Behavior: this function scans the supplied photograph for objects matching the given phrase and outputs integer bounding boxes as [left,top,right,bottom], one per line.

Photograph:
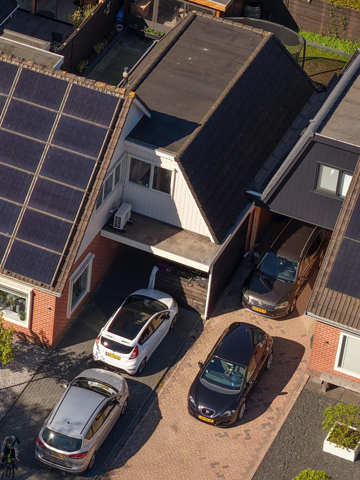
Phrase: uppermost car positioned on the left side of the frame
[92,283,181,378]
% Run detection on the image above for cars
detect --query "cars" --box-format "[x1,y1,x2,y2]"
[185,313,279,424]
[238,215,332,319]
[29,366,133,478]
[92,283,181,378]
